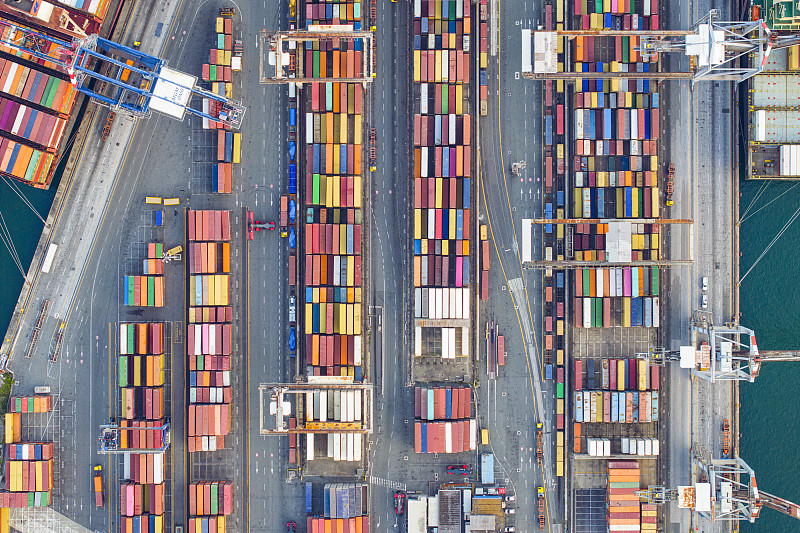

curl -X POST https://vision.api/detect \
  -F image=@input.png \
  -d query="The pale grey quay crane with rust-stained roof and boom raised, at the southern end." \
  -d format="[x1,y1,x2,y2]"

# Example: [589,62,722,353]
[639,431,800,527]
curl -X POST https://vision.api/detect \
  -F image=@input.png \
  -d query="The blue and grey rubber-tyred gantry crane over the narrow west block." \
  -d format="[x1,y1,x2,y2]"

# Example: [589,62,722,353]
[98,416,175,455]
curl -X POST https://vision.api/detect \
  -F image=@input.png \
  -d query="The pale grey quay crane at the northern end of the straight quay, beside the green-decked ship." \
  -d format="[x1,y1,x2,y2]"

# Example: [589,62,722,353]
[639,0,800,92]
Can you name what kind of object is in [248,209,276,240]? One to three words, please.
work vehicle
